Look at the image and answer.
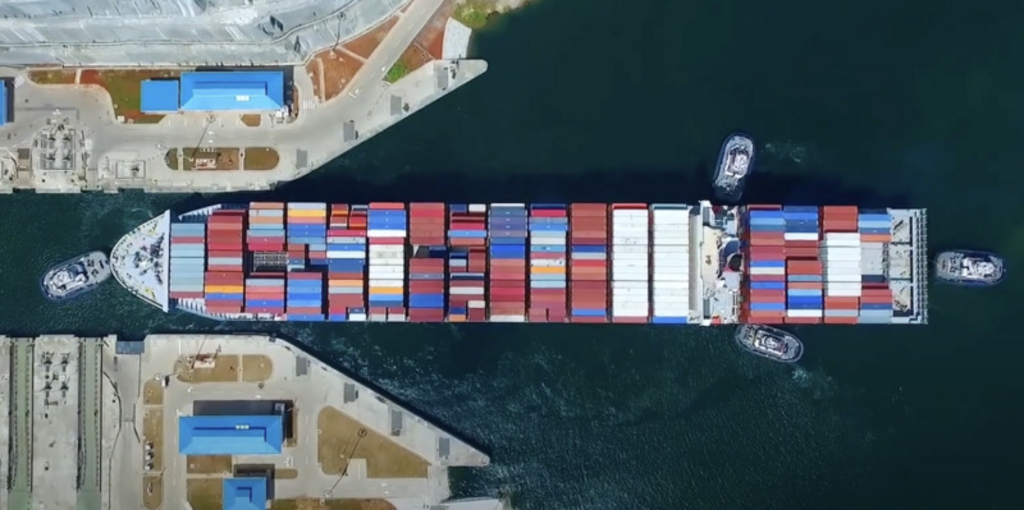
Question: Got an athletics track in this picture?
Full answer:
No, I can't see a single athletics track in this photo.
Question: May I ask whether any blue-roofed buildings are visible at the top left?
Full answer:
Yes, at the top left there is a blue-roofed building.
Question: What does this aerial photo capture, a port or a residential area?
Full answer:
The picture captures a port.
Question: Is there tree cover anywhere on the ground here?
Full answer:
No, the picture contains no tree cover.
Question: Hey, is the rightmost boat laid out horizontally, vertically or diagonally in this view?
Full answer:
I'd say the rightmost boat is aligned horizontally in the picture.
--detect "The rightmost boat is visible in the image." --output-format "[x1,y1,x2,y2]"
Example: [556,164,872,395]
[934,251,1007,285]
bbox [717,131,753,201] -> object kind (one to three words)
boat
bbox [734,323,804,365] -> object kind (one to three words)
boat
